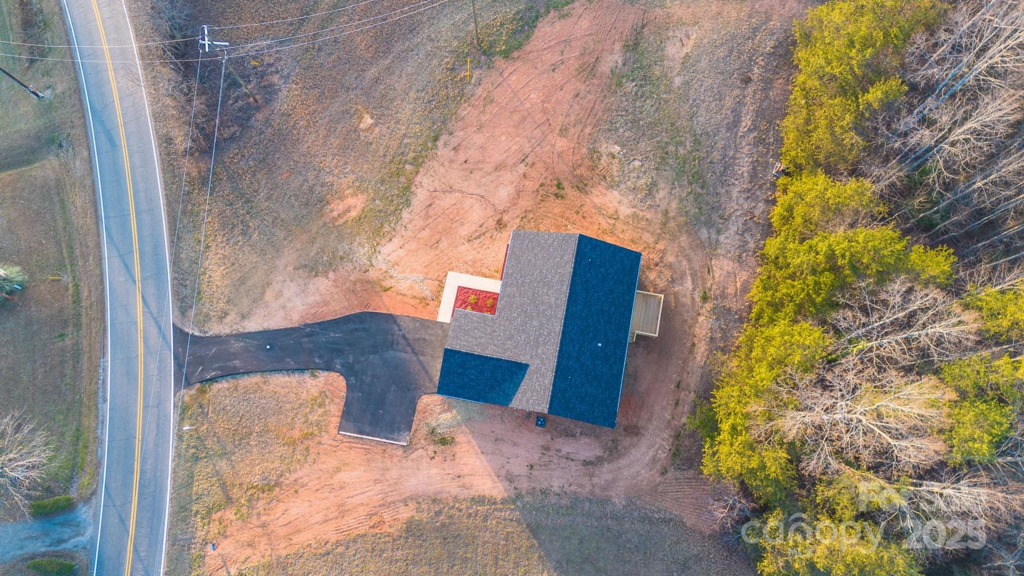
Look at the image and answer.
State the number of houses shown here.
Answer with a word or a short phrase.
1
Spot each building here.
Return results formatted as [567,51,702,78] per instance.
[435,230,644,429]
